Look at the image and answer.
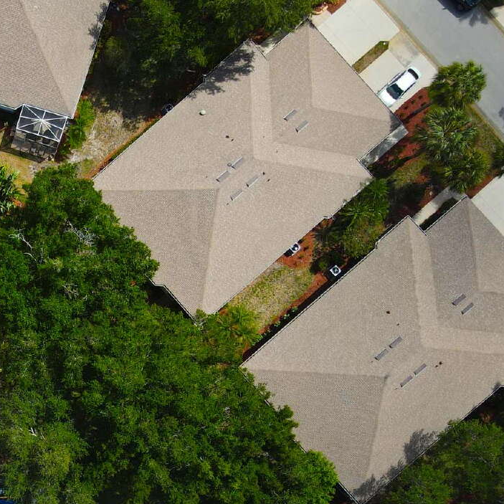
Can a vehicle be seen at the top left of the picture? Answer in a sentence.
No, the scene shows no vehicle at the top left of the picture.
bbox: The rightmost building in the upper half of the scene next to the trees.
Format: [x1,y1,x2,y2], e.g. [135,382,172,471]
[74,22,401,328]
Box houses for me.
[74,22,401,328]
[236,195,504,504]
[0,0,110,120]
